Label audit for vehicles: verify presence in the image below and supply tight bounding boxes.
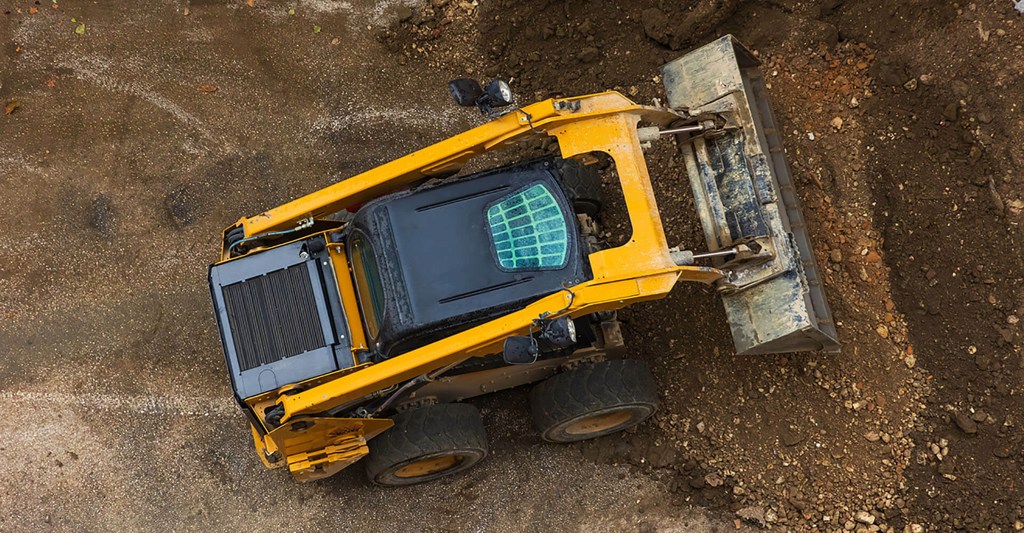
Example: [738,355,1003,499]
[206,33,845,484]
